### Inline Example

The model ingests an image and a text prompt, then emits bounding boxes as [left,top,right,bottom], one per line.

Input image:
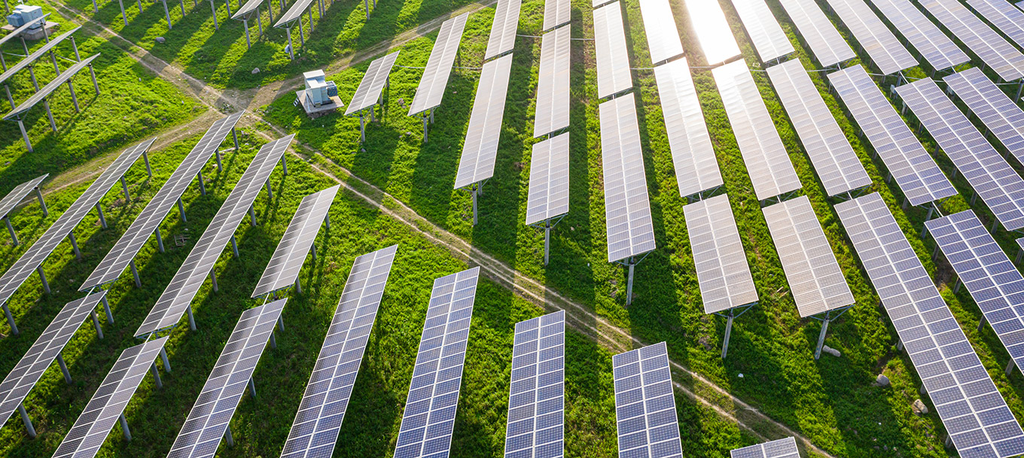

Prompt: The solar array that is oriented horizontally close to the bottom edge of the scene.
[730,437,800,458]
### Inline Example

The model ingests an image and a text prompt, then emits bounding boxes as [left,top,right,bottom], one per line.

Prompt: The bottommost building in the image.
[295,67,344,116]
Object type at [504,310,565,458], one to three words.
solar array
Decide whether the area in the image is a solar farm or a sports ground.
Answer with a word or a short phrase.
solar farm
